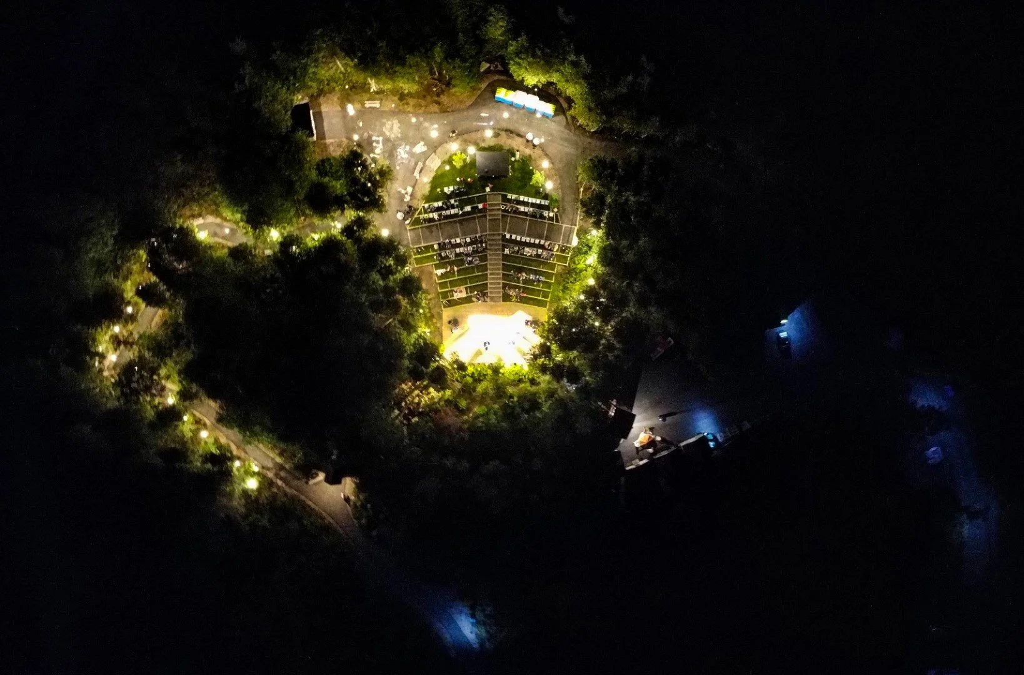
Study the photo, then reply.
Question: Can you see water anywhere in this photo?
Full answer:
No, water can't be seen anywhere here.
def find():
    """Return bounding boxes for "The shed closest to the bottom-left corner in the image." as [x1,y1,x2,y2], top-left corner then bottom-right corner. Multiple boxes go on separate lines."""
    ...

[320,460,357,485]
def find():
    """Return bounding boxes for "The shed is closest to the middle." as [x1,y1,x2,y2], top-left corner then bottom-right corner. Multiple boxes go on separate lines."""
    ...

[595,403,636,445]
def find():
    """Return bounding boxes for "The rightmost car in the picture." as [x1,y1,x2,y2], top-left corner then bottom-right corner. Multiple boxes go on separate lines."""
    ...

[774,328,791,358]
